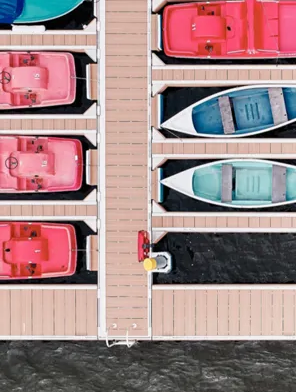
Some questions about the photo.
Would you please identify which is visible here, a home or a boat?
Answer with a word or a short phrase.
boat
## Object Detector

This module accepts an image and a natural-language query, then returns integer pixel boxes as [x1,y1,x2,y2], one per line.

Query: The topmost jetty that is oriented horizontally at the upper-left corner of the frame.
[0,16,98,64]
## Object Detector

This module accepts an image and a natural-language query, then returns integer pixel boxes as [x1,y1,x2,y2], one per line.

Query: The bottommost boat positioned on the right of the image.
[160,159,296,207]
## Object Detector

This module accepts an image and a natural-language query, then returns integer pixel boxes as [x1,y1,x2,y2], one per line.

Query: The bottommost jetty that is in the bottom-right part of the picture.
[153,285,296,341]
